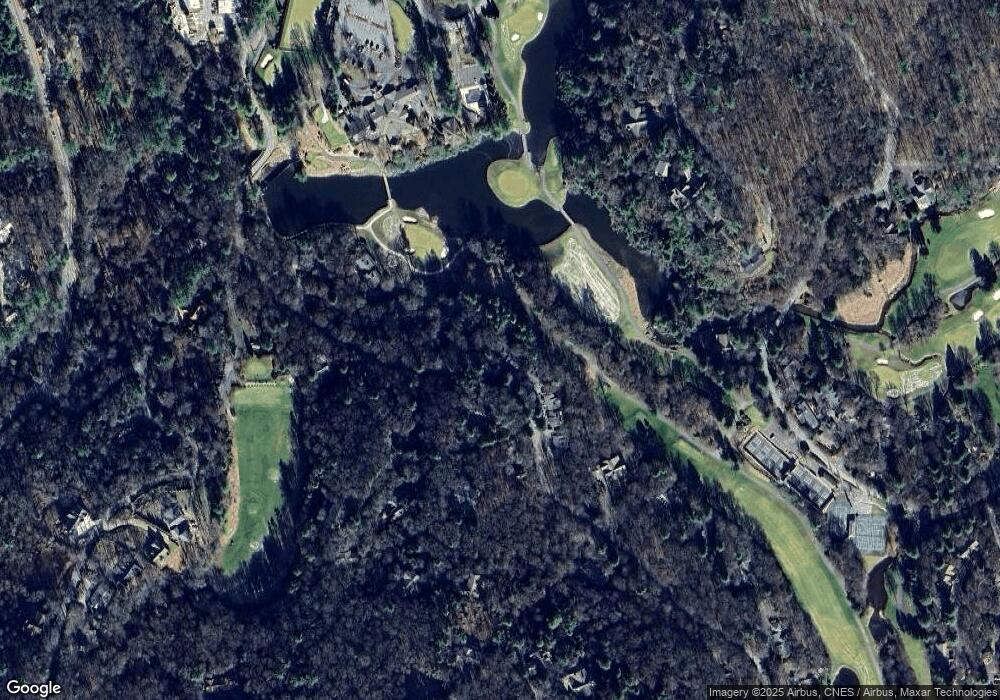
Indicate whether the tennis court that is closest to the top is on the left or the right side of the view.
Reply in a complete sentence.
The tennis court that is closest to the top sits on the right side.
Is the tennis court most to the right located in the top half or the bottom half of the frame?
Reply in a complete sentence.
It is in the bottom half that the tennis court most to the right appears.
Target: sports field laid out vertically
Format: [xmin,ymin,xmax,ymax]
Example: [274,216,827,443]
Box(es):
[220,380,296,578]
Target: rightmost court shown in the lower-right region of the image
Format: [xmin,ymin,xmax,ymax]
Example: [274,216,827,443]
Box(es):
[856,515,888,554]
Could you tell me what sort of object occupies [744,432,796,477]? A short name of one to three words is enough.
tennis court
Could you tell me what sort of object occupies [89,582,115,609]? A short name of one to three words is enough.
house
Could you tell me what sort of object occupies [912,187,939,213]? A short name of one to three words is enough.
house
